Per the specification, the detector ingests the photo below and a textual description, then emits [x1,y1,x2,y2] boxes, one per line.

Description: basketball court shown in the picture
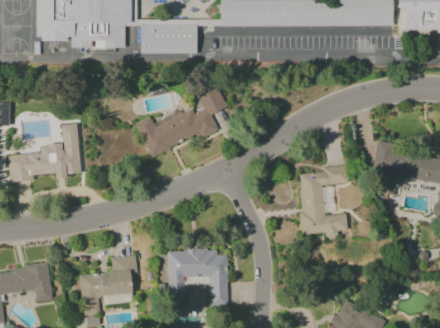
[0,0,36,56]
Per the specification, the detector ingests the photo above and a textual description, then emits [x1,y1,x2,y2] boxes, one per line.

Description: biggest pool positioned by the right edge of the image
[404,196,428,212]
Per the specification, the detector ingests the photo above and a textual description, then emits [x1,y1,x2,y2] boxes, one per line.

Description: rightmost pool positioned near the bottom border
[176,316,202,328]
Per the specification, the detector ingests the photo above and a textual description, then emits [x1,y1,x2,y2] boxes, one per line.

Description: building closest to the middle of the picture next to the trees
[135,90,228,157]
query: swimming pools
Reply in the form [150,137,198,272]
[144,93,172,112]
[22,120,51,140]
[404,196,428,212]
[10,302,38,328]
[176,316,202,328]
[104,312,132,325]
